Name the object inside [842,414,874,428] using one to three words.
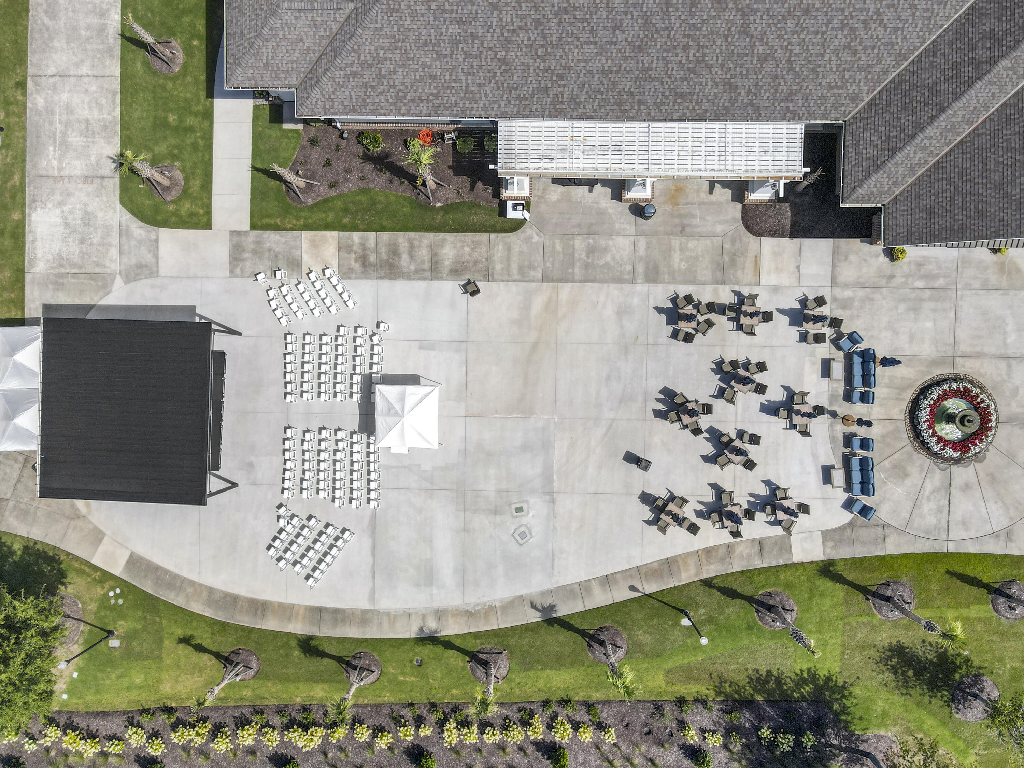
umbrella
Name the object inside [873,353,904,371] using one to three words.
umbrella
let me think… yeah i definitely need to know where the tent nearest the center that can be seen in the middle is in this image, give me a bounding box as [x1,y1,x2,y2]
[375,384,444,448]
